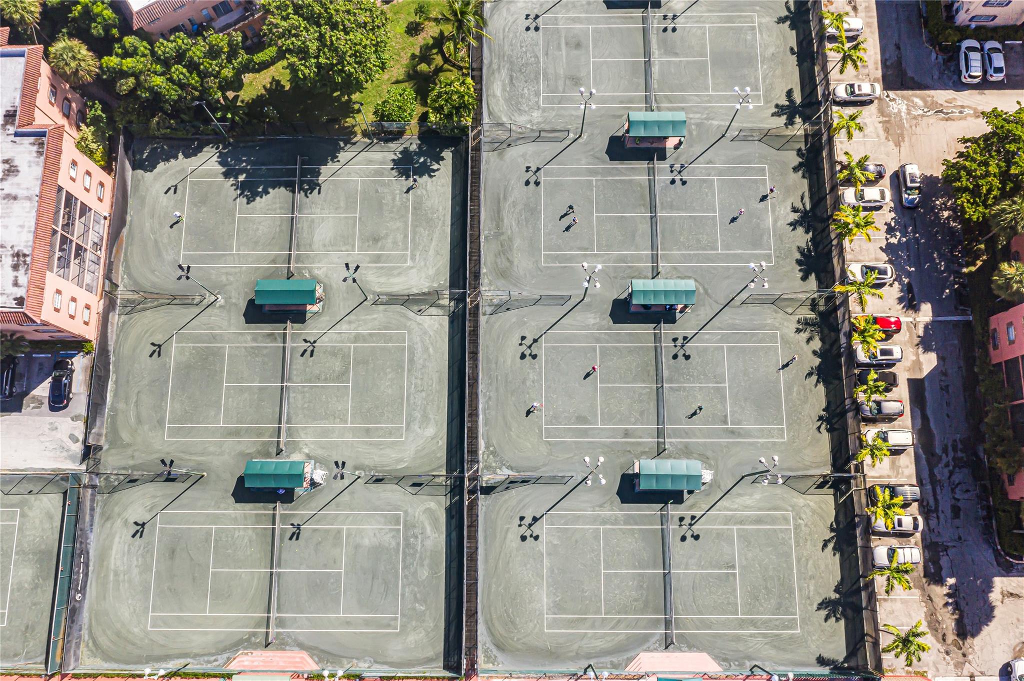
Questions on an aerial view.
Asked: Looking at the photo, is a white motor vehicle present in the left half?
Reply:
No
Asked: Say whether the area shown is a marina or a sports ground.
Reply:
sports ground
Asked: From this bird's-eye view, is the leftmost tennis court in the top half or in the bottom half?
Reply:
bottom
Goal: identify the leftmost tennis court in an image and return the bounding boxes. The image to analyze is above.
[0,477,70,668]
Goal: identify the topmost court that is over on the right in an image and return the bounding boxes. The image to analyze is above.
[483,0,823,136]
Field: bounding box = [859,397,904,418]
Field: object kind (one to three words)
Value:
car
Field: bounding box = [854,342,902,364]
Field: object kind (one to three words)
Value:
car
